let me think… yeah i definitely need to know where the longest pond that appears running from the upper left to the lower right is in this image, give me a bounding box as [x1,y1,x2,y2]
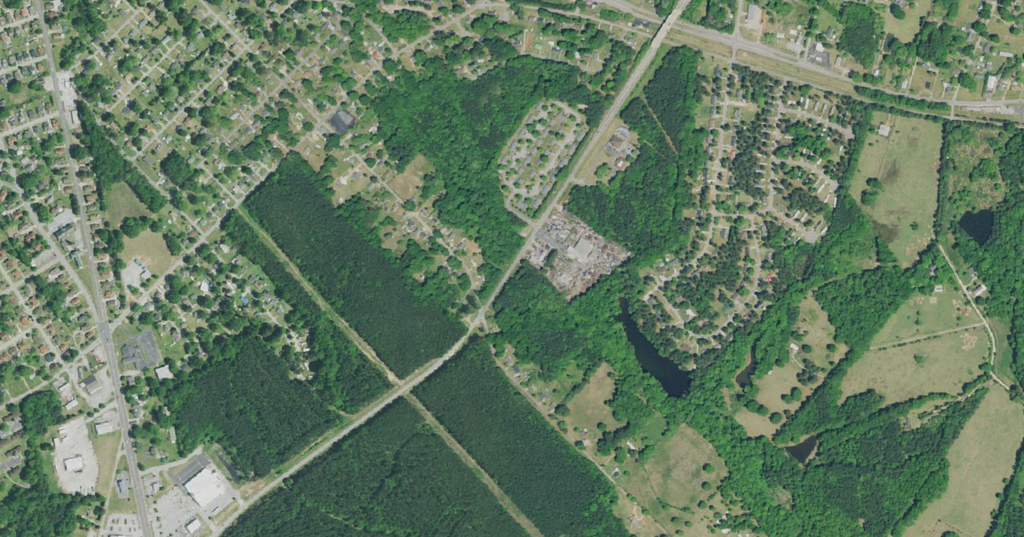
[614,296,691,397]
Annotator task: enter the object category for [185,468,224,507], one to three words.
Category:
building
